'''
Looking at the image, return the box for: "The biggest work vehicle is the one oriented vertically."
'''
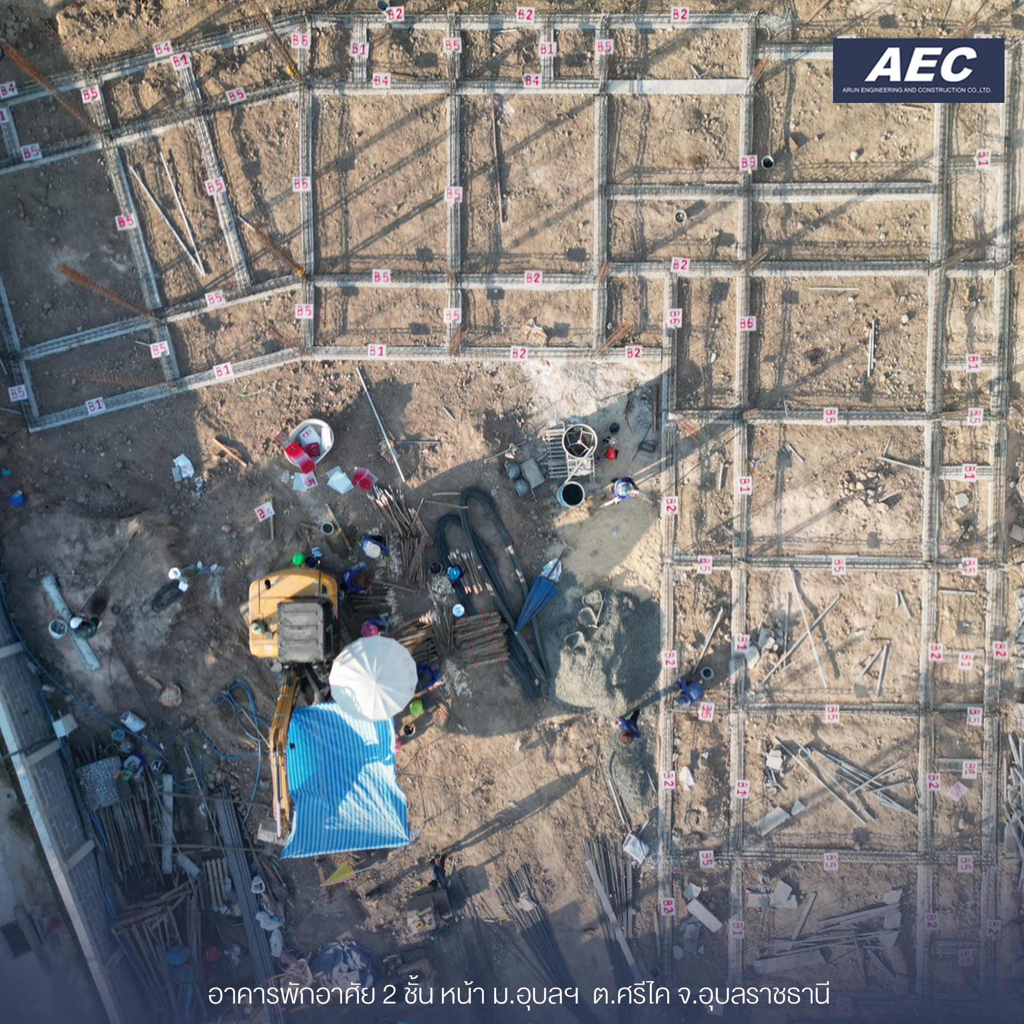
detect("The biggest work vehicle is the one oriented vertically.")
[250,566,345,854]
